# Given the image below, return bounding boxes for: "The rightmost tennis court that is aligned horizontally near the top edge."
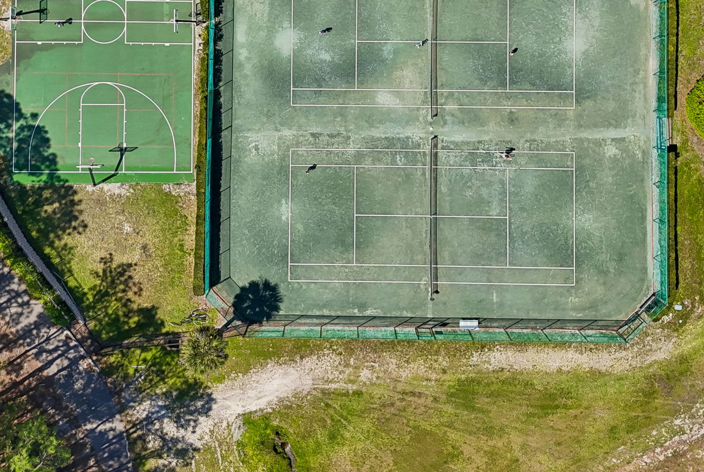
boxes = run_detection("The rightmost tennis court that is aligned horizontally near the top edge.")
[213,0,652,131]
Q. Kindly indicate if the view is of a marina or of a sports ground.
sports ground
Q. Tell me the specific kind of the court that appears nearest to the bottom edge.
tennis court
